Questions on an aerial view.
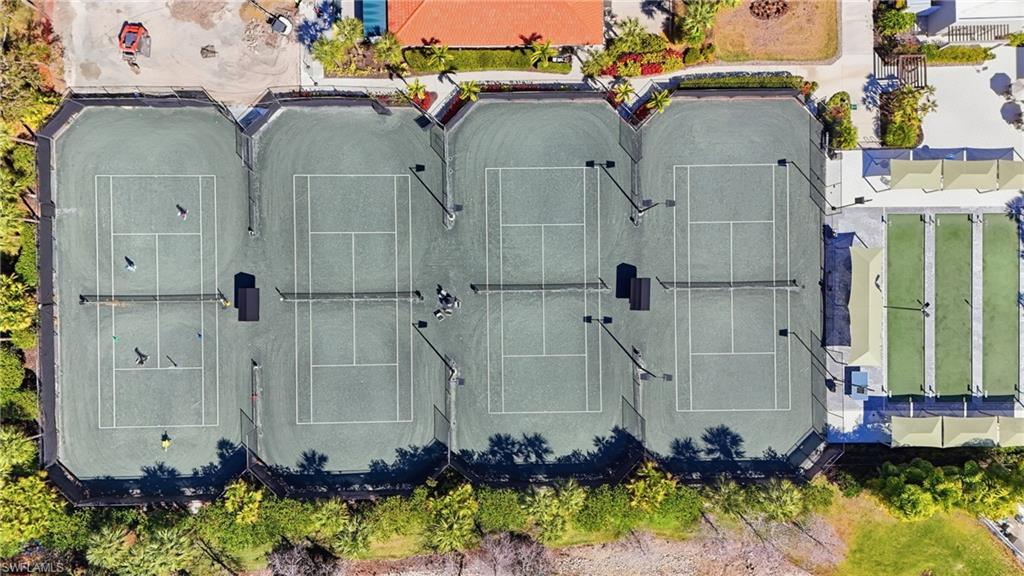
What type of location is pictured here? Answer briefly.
sports ground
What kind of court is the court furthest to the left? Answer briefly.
tennis court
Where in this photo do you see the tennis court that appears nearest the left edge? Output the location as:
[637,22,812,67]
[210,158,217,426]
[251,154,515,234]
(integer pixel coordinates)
[53,105,257,497]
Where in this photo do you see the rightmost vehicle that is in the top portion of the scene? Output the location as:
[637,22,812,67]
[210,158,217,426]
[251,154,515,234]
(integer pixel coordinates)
[243,5,300,43]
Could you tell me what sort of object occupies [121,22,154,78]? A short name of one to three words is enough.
work vehicle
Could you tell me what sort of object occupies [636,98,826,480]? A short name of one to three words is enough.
tennis court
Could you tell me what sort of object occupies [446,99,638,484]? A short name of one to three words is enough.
tennis court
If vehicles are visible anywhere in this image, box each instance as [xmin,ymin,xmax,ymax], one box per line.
[121,22,154,78]
[243,5,300,43]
